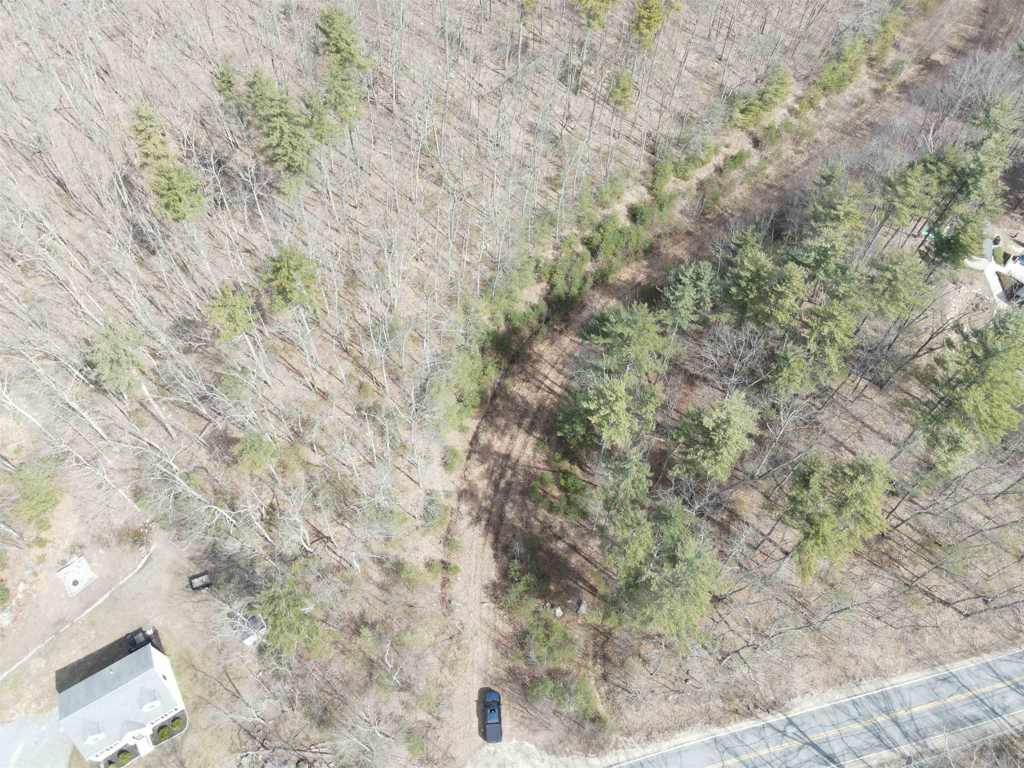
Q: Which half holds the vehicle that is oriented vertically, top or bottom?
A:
bottom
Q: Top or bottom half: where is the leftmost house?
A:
bottom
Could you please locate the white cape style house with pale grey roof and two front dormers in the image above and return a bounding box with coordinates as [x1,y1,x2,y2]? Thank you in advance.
[53,630,186,761]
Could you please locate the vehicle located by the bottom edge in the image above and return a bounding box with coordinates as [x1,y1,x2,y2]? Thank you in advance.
[484,691,504,743]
